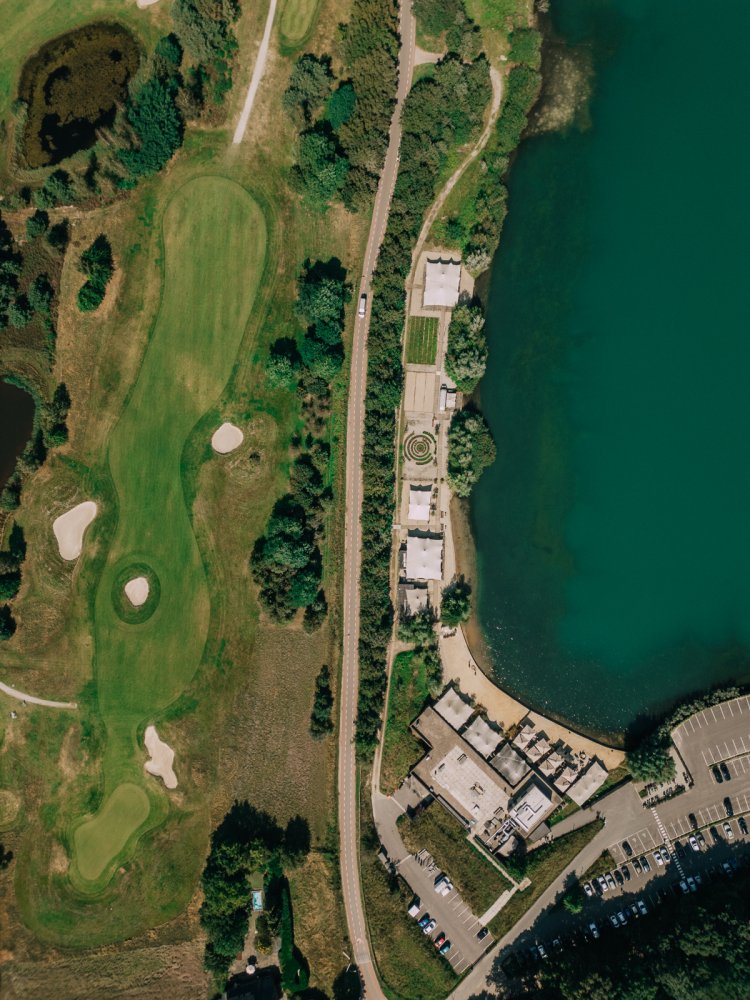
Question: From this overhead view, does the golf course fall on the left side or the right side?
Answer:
left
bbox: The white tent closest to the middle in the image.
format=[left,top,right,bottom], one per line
[407,491,432,520]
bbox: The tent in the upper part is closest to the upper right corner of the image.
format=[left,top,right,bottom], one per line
[423,263,461,309]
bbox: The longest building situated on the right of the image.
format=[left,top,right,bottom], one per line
[409,701,562,854]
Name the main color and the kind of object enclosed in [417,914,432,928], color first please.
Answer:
blue vehicle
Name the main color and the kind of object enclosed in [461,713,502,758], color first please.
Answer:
white tent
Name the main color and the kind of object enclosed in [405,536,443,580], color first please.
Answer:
white tent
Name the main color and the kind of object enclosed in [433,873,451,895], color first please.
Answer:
white vehicle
